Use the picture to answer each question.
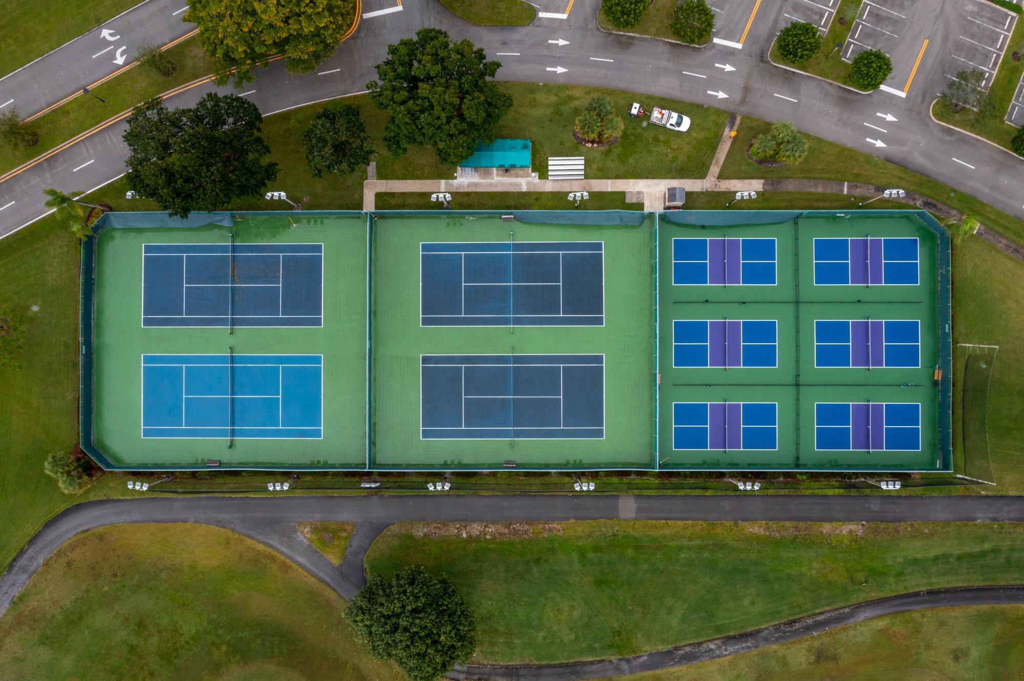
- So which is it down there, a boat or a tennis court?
tennis court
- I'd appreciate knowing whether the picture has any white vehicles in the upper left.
No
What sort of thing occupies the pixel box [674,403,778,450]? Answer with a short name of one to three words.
sports court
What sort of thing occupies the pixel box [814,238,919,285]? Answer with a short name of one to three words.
sports court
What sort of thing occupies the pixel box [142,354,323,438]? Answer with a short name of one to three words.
tennis court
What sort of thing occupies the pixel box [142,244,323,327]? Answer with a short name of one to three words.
tennis court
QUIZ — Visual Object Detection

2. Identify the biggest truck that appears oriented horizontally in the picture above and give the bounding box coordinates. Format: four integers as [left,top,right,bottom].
[650,103,693,129]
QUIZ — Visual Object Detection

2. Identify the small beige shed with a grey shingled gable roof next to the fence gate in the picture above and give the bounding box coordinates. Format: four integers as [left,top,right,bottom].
[663,186,686,208]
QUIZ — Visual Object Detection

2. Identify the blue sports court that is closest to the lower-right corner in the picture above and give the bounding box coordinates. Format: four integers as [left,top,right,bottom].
[815,403,921,450]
